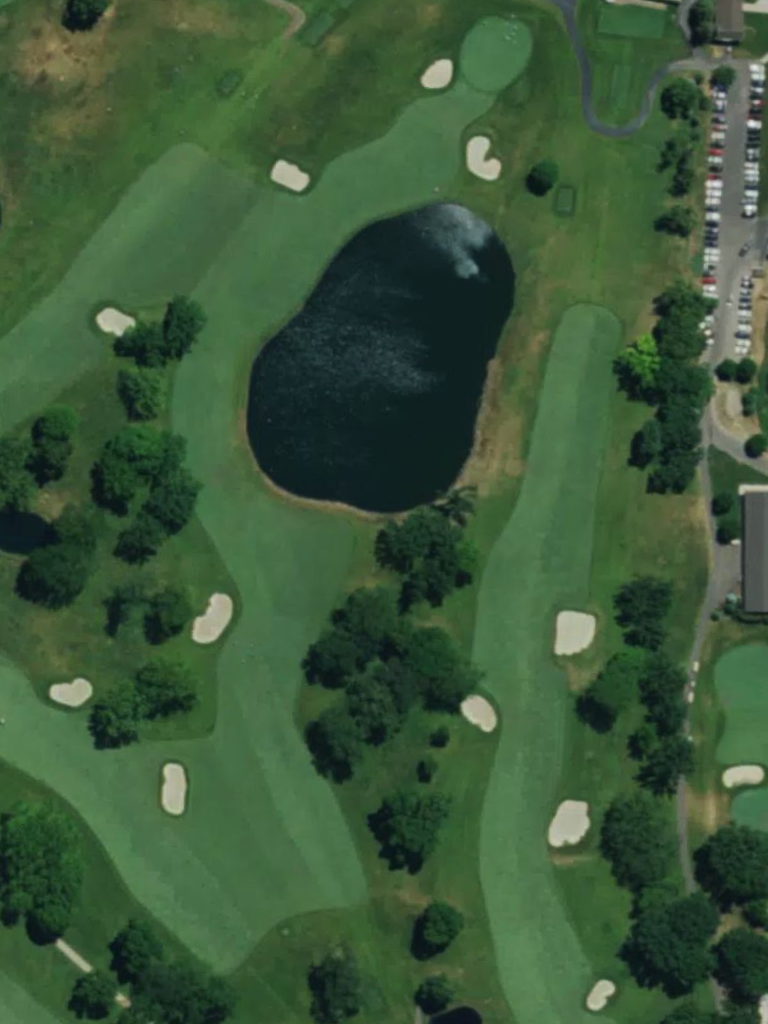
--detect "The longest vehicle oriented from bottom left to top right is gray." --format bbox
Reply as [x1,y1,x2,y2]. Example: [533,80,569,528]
[737,243,752,259]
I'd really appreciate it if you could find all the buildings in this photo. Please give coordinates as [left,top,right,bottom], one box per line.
[716,0,743,41]
[744,492,768,613]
